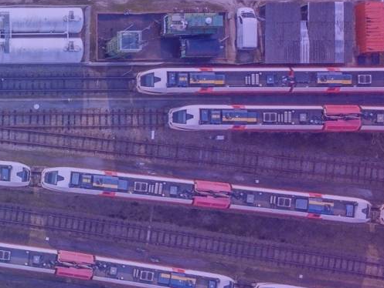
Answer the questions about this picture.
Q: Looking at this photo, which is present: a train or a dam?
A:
train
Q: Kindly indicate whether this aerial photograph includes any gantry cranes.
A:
No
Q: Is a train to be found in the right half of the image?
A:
Yes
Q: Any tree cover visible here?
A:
No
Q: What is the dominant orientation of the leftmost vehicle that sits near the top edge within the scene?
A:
up and down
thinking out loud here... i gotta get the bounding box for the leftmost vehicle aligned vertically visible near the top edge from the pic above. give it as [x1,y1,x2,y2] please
[233,6,256,54]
